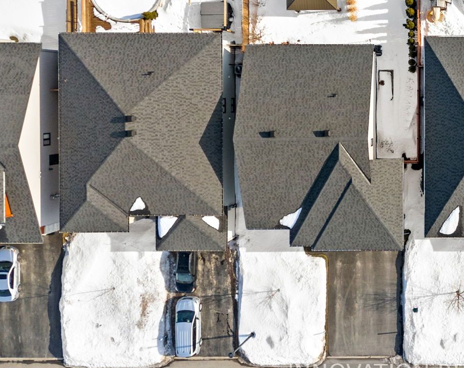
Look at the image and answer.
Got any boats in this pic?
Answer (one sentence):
No, the picture doesn't show any boat.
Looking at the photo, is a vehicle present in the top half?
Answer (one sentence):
No, there is no vehicle in the top half.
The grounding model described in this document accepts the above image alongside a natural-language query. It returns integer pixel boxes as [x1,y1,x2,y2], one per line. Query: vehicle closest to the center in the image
[170,251,201,291]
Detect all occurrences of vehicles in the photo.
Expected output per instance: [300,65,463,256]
[0,245,26,302]
[170,251,201,291]
[173,295,205,357]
